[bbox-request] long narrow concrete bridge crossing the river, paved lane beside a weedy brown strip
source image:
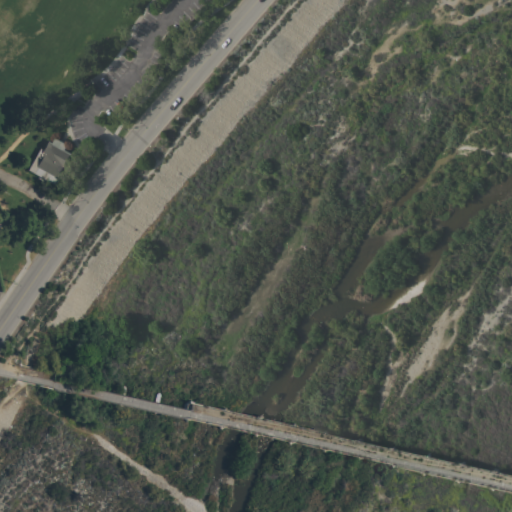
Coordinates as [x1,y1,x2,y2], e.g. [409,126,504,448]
[187,401,512,494]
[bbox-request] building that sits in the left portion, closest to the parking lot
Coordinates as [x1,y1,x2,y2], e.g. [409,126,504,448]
[30,140,71,182]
